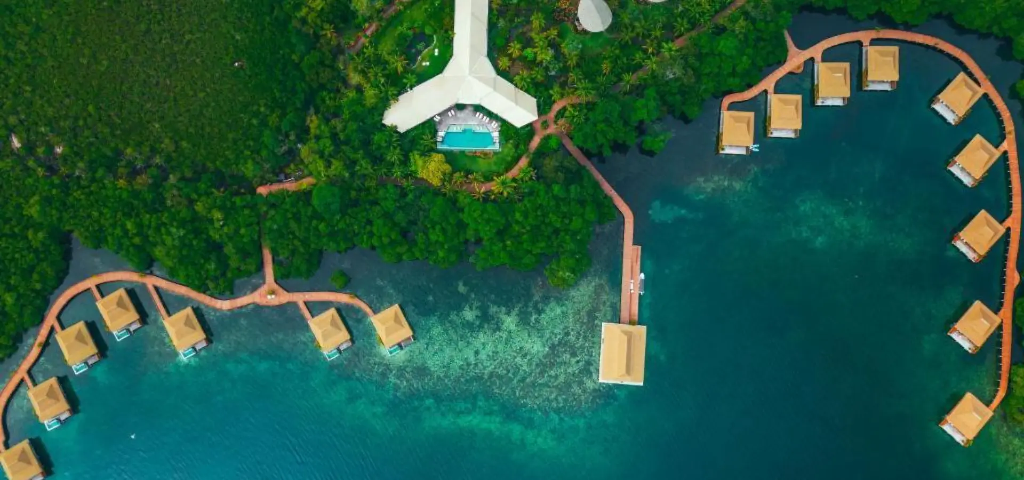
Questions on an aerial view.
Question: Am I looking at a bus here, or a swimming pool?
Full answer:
It is a swimming pool that can be seen here.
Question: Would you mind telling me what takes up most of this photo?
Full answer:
Most of the picture is covered by water.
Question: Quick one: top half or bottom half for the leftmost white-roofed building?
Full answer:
It is in the top half that the leftmost white-roofed building appears.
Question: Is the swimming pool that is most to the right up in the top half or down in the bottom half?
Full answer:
It is in the top half that the swimming pool that is most to the right appears.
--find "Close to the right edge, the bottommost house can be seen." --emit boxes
[937,392,993,442]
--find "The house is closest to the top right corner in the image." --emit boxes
[929,71,985,124]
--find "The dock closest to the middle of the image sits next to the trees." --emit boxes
[563,137,633,323]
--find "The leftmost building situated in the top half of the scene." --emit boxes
[383,0,538,132]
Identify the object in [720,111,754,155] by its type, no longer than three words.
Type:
house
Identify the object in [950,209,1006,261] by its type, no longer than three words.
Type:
house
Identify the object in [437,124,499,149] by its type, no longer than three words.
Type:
swimming pool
